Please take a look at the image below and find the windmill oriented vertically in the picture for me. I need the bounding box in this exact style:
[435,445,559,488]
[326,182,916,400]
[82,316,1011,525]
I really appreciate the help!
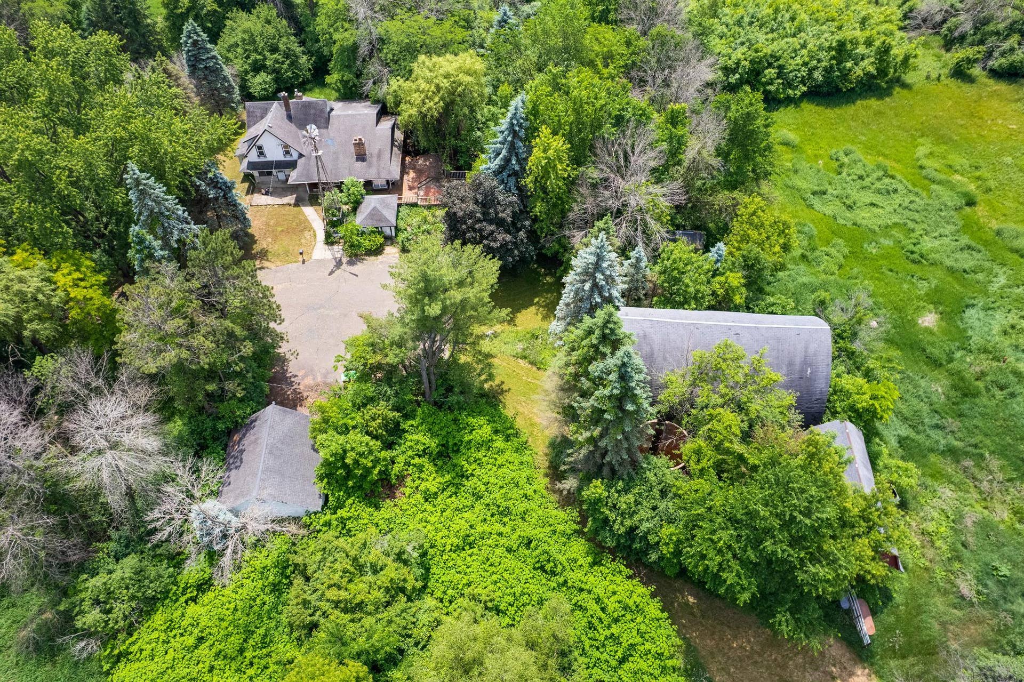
[299,123,347,240]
